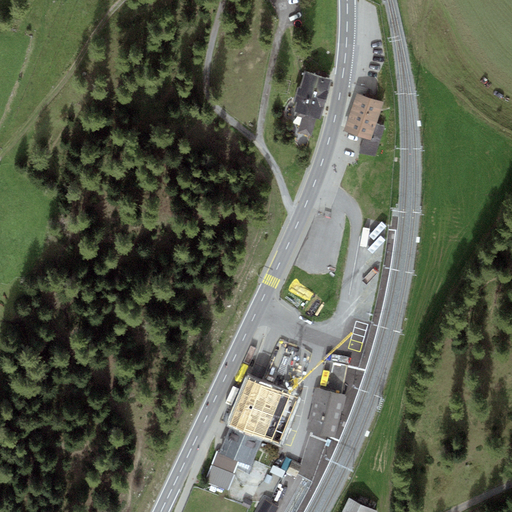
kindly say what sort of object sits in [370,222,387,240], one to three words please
vehicle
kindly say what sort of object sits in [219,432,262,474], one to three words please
building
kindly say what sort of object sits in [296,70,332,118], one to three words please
house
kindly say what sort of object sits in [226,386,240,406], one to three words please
vehicle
